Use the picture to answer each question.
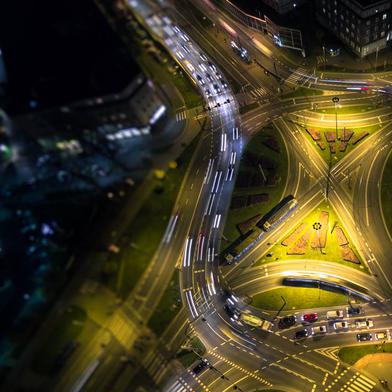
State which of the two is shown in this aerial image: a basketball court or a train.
train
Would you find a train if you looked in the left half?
No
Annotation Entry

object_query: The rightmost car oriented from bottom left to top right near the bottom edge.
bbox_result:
[192,359,208,375]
